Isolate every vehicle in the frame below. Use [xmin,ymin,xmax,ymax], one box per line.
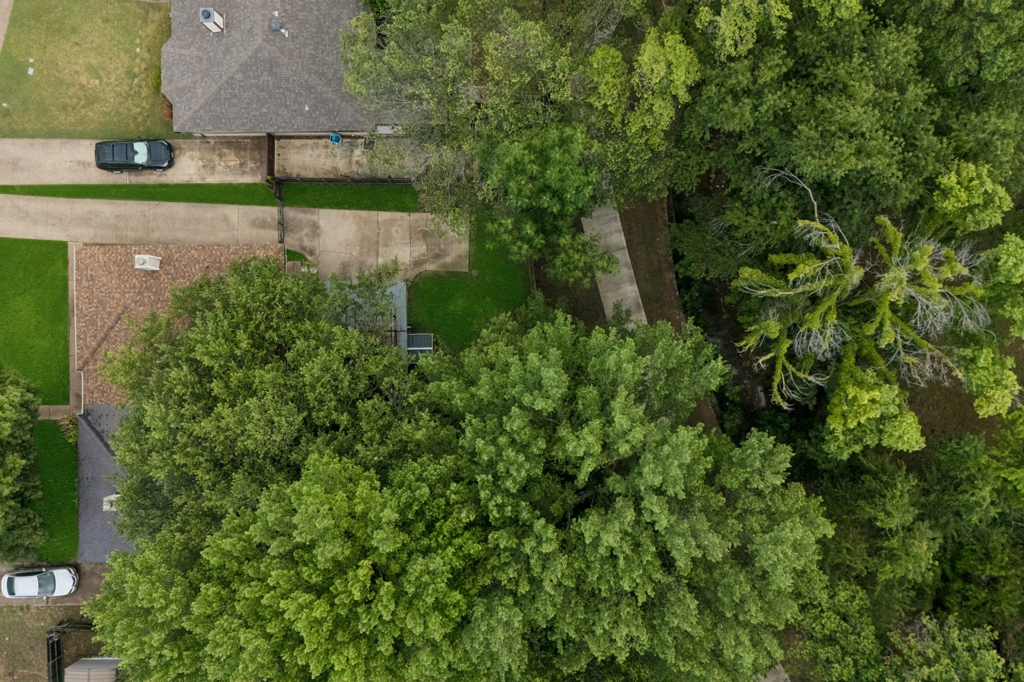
[0,565,80,603]
[90,134,175,172]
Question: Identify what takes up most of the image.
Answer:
trees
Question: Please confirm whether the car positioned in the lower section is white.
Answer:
Yes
